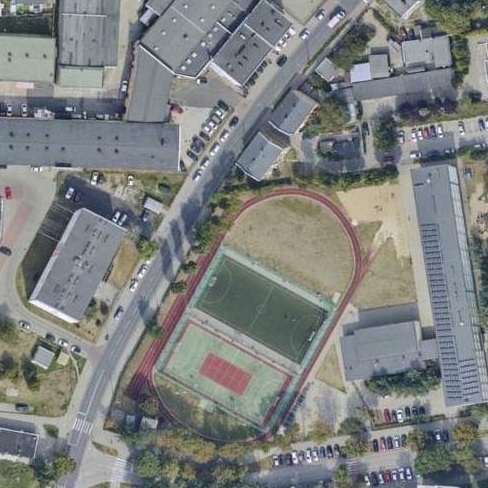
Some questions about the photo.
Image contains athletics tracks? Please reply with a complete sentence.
Yes, there's an athletics track here.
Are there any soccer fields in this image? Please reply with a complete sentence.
Yes, the frame does contain a soccer field.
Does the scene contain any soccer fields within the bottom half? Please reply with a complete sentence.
Yes, within the bottom half there is a soccer field.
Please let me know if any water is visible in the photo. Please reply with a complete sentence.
No, the scene doesn't show any water.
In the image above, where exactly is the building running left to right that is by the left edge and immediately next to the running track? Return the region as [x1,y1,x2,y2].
[0,117,181,171]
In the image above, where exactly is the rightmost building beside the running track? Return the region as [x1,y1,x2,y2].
[410,165,488,406]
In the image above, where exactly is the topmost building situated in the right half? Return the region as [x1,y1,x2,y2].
[387,0,419,18]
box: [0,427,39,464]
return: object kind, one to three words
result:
house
